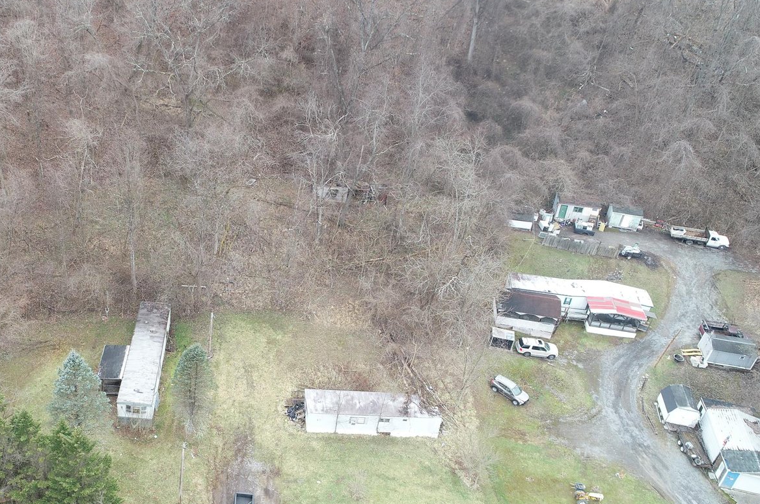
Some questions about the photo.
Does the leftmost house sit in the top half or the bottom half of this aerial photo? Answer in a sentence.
Seen from above, the leftmost house lies in the bottom half of the view.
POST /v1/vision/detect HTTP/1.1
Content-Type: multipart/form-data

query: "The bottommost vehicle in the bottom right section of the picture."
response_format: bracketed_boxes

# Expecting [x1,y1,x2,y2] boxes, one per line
[573,482,609,504]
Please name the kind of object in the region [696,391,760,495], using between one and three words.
building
